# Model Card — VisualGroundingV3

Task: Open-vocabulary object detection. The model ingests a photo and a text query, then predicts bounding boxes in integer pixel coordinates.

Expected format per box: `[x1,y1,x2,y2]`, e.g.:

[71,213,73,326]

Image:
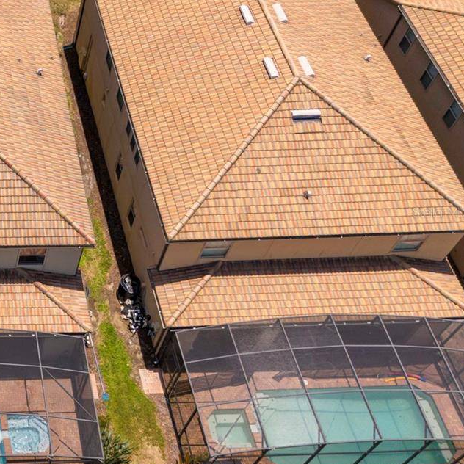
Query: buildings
[59,0,464,348]
[0,0,98,354]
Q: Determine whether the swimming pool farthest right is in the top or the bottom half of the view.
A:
bottom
